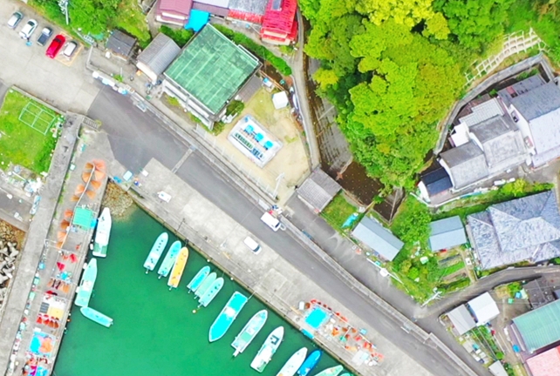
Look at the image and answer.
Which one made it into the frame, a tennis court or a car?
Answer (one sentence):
Looking from above, you can make out a car.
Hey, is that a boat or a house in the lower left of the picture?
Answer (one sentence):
The one visible in the lower left of the picture is a boat.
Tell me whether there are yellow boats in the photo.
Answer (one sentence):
Yes, there is a yellow boat in the image.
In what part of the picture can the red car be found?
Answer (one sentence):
The red car is in the top left part of the image.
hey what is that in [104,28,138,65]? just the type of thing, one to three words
shed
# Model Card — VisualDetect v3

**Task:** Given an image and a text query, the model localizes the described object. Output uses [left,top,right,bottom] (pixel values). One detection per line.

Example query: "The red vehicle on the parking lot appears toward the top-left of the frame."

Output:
[45,34,68,61]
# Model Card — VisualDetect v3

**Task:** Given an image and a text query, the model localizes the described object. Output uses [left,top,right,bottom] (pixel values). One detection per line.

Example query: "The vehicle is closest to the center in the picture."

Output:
[259,209,282,233]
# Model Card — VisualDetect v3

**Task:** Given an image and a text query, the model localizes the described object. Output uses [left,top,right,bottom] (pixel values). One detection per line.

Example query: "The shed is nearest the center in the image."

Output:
[295,167,343,215]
